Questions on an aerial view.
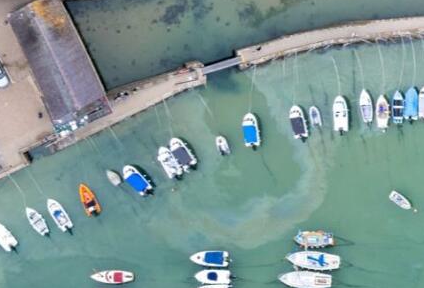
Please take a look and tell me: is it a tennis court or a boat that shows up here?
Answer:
boat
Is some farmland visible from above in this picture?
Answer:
No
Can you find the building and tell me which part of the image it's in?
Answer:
top left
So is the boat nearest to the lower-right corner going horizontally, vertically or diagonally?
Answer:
diagonally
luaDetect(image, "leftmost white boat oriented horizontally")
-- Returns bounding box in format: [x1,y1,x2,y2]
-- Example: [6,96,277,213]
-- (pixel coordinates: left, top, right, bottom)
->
[91,269,140,284]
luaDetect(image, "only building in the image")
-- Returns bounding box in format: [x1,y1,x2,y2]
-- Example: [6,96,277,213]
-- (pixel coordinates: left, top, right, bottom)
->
[8,0,112,130]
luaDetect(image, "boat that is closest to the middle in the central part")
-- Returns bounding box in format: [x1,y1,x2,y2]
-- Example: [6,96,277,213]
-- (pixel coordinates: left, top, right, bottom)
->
[217,135,232,159]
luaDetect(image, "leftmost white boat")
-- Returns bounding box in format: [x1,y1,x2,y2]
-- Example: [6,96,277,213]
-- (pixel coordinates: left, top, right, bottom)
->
[0,224,18,253]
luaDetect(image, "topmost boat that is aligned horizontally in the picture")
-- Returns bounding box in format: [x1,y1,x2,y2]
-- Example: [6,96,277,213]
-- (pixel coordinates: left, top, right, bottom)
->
[295,230,340,248]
